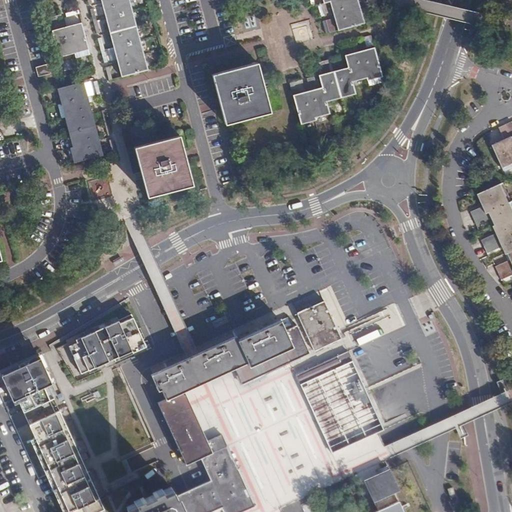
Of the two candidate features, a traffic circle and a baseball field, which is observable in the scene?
traffic circle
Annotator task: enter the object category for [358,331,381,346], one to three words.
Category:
vehicle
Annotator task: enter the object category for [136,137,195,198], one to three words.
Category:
building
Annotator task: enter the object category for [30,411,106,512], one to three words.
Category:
building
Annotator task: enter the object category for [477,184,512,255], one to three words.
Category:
house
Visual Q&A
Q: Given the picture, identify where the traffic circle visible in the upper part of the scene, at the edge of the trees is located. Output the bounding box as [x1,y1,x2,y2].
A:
[346,148,417,217]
